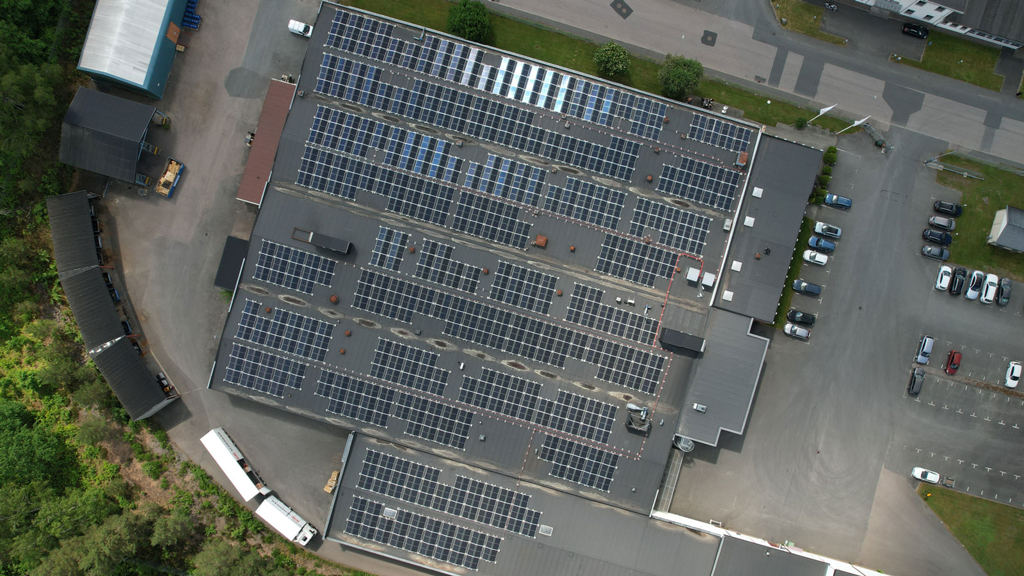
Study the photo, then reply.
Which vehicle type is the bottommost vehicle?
truck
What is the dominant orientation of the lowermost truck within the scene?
on a diagonal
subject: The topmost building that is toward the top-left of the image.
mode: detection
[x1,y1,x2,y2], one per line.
[76,0,188,99]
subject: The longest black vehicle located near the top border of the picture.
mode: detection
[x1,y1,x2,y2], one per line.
[901,23,929,40]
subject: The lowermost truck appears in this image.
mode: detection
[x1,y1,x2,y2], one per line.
[256,494,318,547]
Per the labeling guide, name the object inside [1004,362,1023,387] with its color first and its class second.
white car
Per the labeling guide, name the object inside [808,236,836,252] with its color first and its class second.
blue car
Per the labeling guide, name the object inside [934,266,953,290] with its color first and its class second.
white car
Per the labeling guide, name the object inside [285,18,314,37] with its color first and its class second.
white vehicle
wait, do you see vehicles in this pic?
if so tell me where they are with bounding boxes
[802,250,828,265]
[1004,362,1023,387]
[256,494,318,547]
[995,278,1013,305]
[901,23,929,40]
[787,309,816,326]
[945,350,963,375]
[808,236,836,252]
[916,336,935,363]
[934,266,953,290]
[783,323,810,339]
[814,221,843,238]
[911,466,942,484]
[965,271,984,298]
[921,245,950,261]
[824,193,852,209]
[949,268,969,296]
[928,216,956,231]
[825,1,838,9]
[933,201,962,216]
[285,18,314,37]
[922,230,951,246]
[792,279,822,296]
[979,275,1000,302]
[907,367,925,396]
